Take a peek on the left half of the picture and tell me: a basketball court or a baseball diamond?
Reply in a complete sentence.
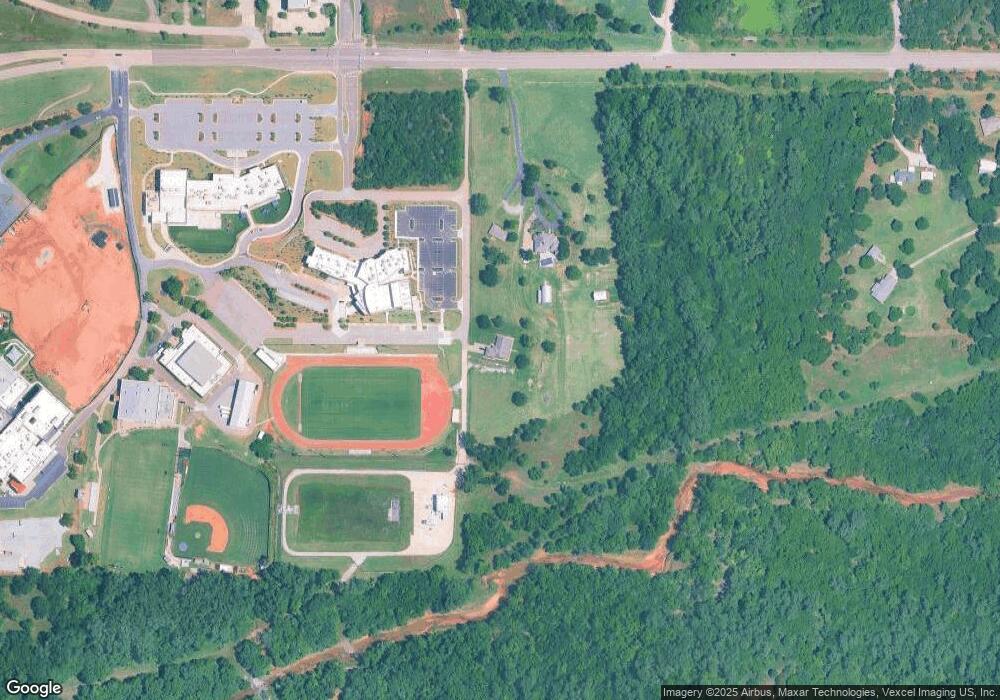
What appears on the left half of the picture is a baseball diamond.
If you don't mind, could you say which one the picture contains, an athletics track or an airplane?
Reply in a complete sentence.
The one in the frame is an athletics track.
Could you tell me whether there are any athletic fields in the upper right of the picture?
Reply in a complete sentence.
No, no athletic field can be made out in the upper right of the picture.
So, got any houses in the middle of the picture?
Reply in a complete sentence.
Yes, looking in the middle of the picture, one can make out a house.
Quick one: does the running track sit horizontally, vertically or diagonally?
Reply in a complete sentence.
In this picture, the running track is oriented horizontally.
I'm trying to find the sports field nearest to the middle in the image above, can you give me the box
[301,367,421,440]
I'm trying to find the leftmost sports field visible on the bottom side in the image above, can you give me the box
[101,428,179,571]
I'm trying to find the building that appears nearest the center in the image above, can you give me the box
[487,336,514,359]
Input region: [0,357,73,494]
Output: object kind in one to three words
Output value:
building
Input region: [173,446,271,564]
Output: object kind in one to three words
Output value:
baseball field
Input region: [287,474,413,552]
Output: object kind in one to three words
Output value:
sports field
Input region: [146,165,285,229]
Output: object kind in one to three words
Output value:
building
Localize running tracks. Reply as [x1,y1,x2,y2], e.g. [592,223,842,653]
[271,356,453,448]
